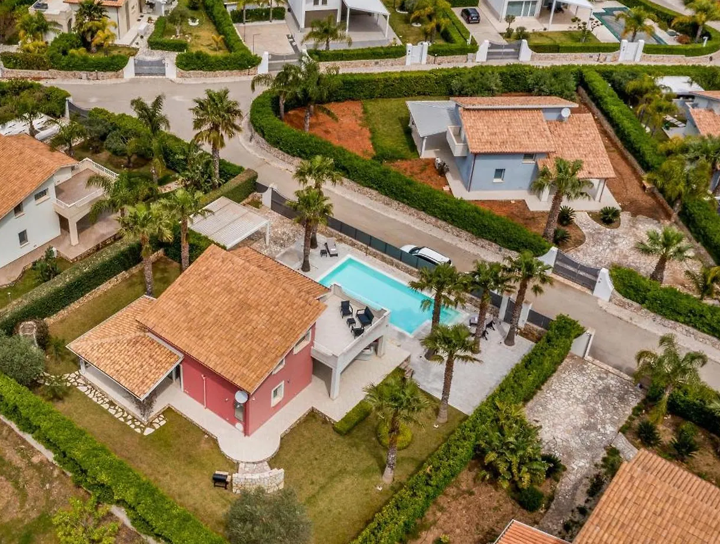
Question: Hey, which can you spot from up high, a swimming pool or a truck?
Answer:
swimming pool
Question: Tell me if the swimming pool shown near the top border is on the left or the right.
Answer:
right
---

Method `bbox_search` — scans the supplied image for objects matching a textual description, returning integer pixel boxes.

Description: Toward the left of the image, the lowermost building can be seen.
[61,243,393,435]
